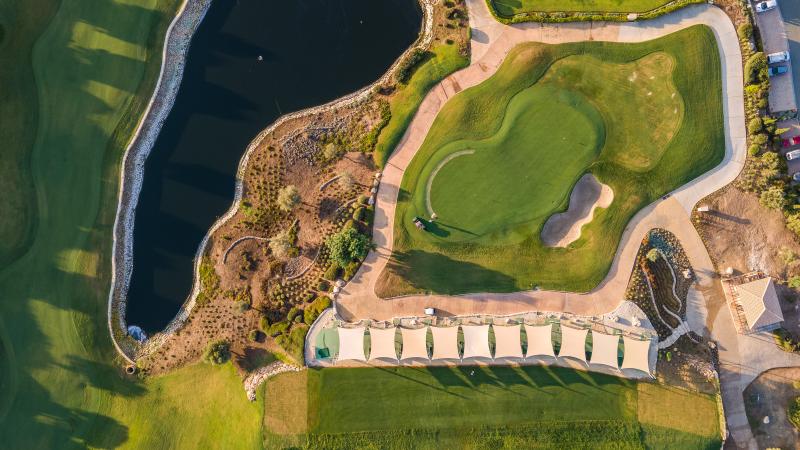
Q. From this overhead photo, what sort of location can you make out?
golf course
